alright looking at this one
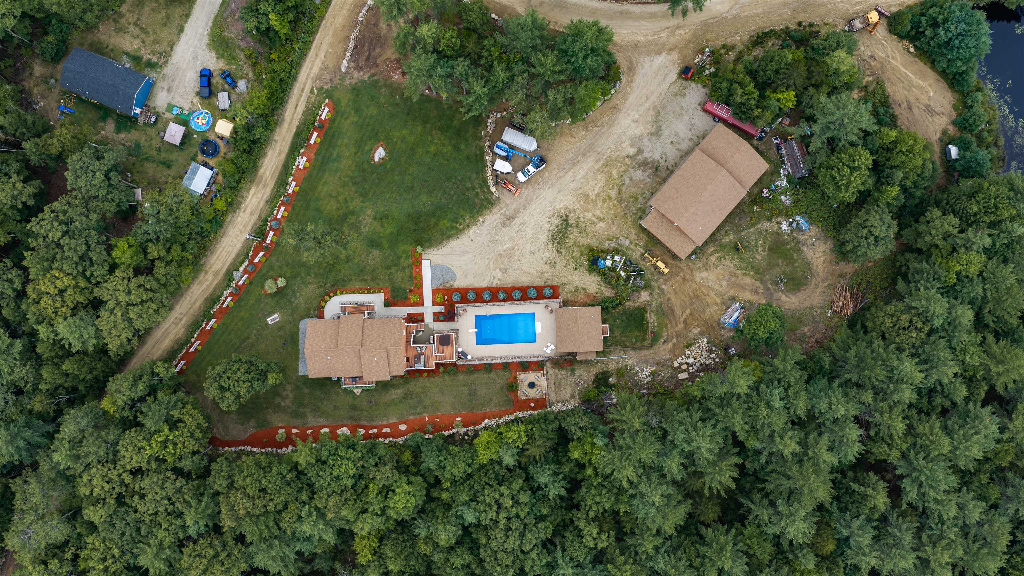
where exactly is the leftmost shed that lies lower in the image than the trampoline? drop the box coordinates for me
[183,162,217,195]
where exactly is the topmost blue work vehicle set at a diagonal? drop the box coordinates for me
[217,67,239,90]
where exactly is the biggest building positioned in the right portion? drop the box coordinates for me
[639,123,769,260]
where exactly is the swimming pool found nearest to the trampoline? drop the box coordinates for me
[189,105,212,132]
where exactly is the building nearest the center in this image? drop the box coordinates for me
[555,306,609,361]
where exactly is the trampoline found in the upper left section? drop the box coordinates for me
[195,137,219,157]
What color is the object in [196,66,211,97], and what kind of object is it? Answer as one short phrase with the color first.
blue vehicle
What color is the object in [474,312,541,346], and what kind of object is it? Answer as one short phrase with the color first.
blue swimming pool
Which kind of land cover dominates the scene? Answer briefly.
trees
